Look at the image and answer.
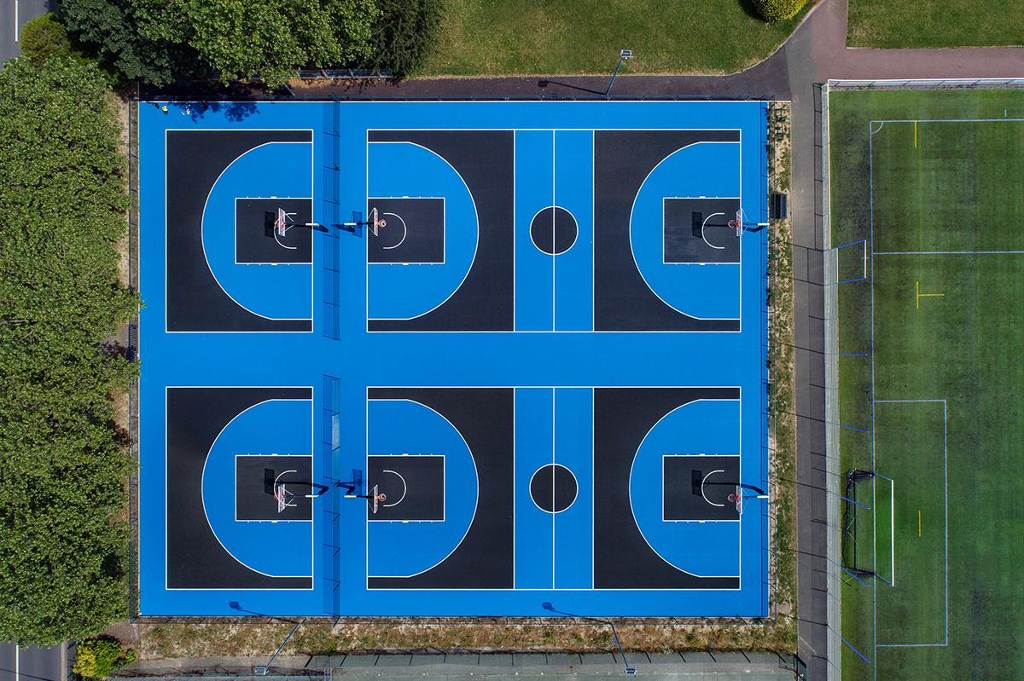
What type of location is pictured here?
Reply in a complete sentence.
This looks like a sports ground.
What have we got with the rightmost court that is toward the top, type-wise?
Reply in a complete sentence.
I'd identify the rightmost court that is toward the top as a basketball court.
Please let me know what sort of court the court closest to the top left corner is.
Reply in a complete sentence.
In the photo, the court closest to the top left corner shows up as a basketball court.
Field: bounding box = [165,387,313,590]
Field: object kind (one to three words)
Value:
basketball court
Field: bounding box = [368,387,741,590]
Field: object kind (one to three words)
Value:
basketball court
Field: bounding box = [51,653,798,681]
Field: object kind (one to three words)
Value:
sports court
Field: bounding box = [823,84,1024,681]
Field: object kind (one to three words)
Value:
soccer field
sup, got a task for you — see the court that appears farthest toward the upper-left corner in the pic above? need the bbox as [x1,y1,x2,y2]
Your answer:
[165,129,313,332]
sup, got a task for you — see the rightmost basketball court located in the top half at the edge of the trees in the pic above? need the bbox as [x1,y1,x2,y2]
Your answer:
[368,129,741,332]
